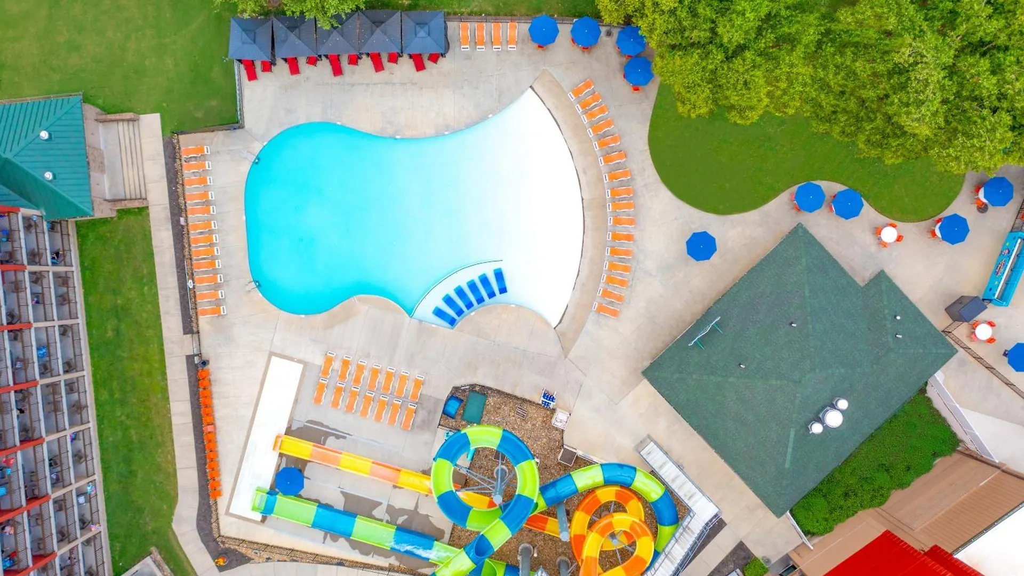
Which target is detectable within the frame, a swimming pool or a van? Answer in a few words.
swimming pool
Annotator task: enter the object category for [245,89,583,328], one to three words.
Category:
swimming pool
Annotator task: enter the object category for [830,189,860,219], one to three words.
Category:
umbrella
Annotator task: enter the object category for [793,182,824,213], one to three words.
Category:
umbrella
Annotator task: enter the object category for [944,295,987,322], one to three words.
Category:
shed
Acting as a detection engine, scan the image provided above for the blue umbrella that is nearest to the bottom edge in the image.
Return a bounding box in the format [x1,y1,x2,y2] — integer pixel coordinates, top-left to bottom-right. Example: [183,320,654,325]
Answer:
[277,465,307,494]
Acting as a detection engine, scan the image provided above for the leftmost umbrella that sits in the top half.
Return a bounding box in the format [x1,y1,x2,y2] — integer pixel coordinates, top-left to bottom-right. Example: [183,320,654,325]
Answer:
[529,18,559,48]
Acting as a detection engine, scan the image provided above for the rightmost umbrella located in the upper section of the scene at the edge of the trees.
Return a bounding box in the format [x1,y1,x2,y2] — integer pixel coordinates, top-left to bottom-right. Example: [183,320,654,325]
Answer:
[974,177,1010,207]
